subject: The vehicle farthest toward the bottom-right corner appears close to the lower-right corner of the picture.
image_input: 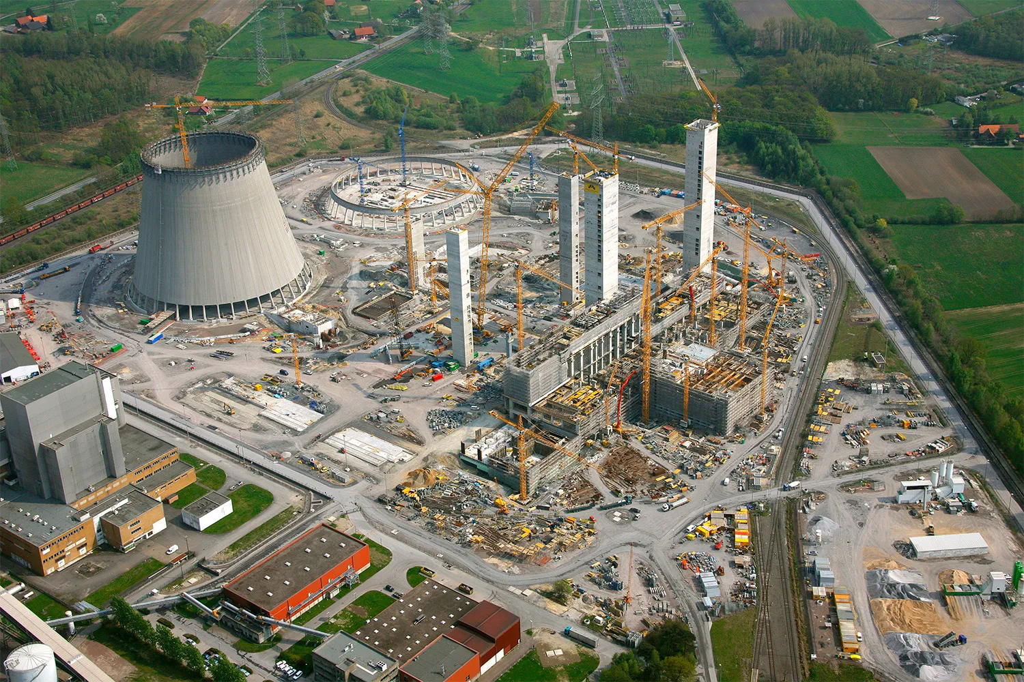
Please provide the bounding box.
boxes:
[936,627,967,646]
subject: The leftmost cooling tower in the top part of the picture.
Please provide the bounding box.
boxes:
[124,127,314,327]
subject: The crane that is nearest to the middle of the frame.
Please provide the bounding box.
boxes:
[507,249,588,346]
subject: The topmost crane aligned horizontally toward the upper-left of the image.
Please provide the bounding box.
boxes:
[142,93,294,166]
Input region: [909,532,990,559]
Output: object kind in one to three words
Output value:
shed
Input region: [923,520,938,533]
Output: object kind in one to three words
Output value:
vehicle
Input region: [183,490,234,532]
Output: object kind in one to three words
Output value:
building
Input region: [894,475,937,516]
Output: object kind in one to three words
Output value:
building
